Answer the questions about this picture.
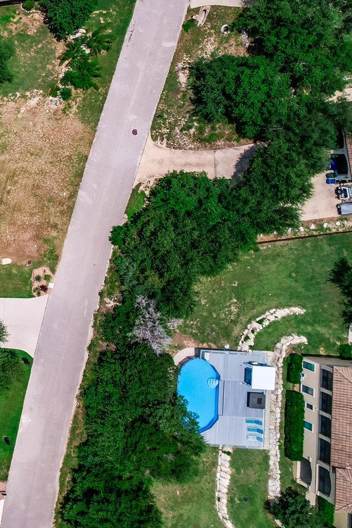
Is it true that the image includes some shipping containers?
No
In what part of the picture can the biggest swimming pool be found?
bottom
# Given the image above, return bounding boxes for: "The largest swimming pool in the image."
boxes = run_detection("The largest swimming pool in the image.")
[172,355,220,434]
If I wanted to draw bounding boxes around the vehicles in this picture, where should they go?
[339,201,352,219]
[338,184,352,202]
[336,158,344,173]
